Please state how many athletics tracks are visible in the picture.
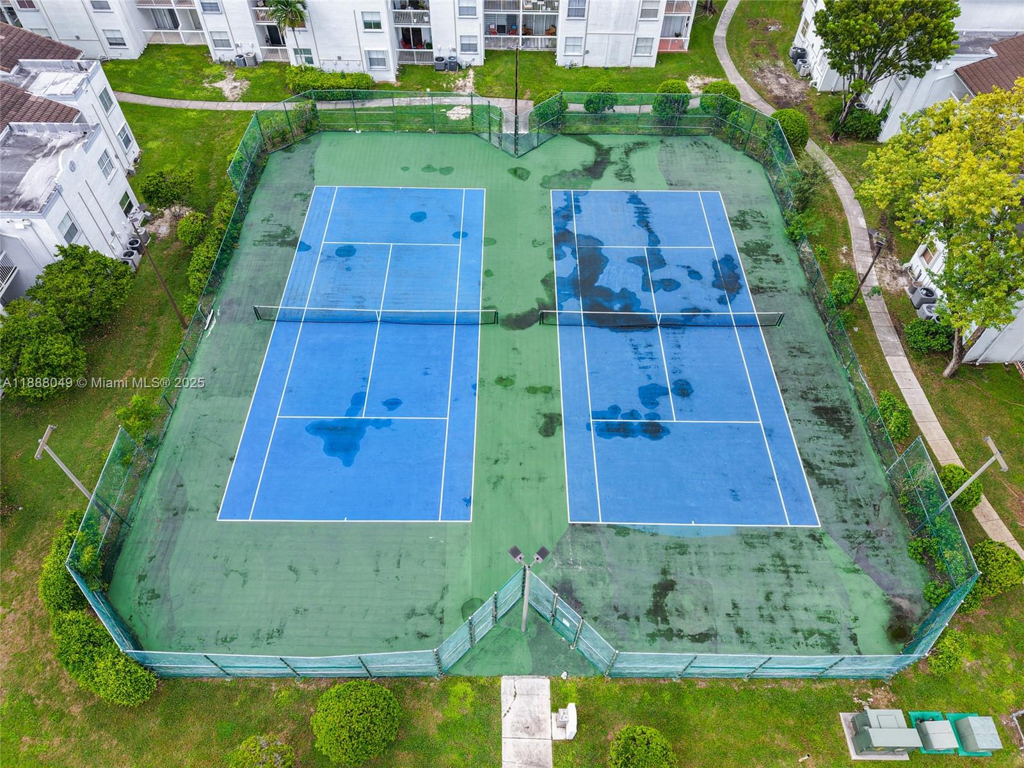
0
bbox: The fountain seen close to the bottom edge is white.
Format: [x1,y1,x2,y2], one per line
[552,703,575,742]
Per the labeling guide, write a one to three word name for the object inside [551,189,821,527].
tennis court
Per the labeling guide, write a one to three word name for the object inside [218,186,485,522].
tennis court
